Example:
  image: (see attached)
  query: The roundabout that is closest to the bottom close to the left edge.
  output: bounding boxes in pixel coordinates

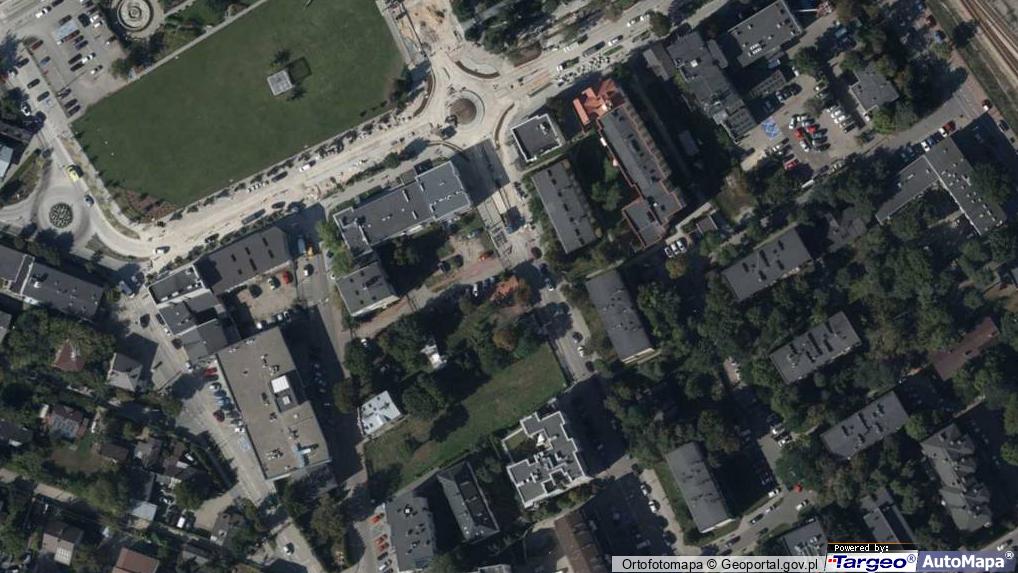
[27,181,95,251]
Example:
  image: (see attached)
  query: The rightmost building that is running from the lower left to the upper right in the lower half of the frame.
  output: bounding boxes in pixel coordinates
[936,316,1000,373]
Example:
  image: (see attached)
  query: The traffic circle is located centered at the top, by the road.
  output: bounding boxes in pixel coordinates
[424,72,503,150]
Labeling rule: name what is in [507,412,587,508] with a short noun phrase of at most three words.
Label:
building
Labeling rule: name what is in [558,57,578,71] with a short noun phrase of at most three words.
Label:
vehicle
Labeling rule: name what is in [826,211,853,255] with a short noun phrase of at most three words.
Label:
house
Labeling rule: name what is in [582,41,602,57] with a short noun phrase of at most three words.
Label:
vehicle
